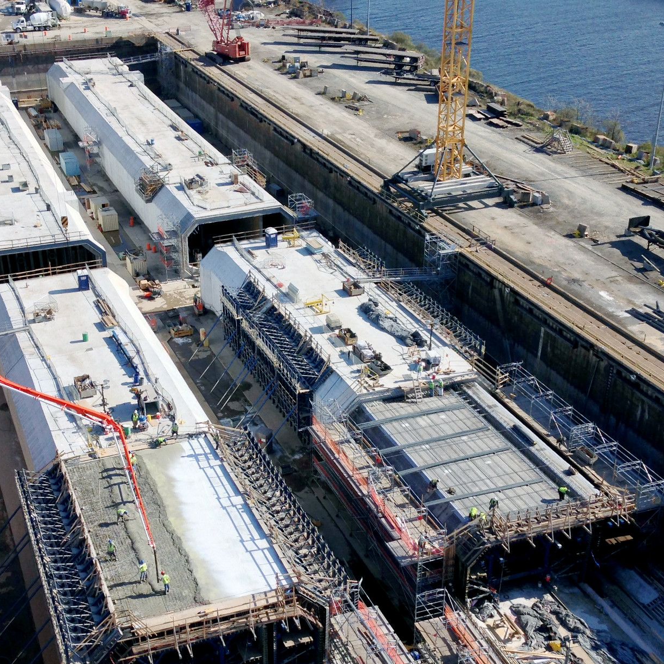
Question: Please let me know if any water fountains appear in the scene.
No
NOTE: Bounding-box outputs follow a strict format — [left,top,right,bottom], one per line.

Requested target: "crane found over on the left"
[209,0,255,60]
